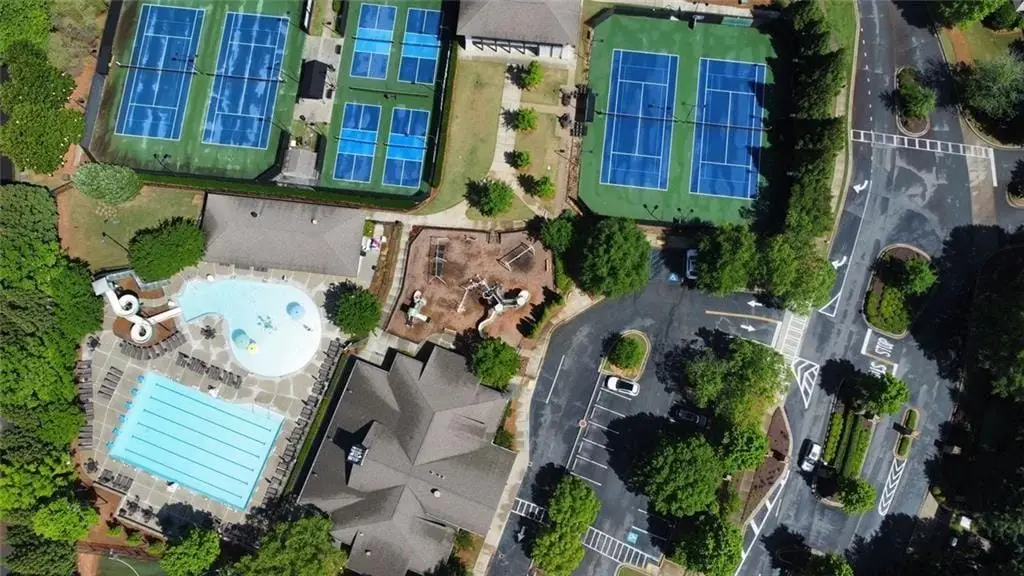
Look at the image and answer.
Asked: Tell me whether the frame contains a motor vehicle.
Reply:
Yes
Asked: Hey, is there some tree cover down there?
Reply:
Yes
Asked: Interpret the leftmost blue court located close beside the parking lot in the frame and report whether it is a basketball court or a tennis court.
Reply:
tennis court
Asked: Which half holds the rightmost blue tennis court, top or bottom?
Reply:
top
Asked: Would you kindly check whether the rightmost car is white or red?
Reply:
white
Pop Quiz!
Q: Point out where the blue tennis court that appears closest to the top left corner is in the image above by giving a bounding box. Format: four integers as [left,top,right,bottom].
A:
[114,4,205,141]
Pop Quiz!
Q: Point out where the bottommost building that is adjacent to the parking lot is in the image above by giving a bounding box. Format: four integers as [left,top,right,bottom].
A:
[296,344,517,576]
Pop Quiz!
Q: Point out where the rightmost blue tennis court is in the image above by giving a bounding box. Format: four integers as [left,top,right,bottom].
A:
[689,57,770,200]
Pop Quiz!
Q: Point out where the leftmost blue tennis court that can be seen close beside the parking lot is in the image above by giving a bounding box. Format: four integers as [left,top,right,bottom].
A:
[599,49,680,191]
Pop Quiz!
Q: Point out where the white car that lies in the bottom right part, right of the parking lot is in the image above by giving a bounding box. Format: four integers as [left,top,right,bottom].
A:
[799,441,823,474]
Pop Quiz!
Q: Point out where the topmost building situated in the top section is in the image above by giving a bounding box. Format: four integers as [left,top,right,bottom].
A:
[456,0,577,61]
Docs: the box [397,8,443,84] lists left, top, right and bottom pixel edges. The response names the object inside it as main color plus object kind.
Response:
blue sports court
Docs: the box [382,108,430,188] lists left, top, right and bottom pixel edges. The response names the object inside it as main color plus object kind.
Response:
blue sports court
